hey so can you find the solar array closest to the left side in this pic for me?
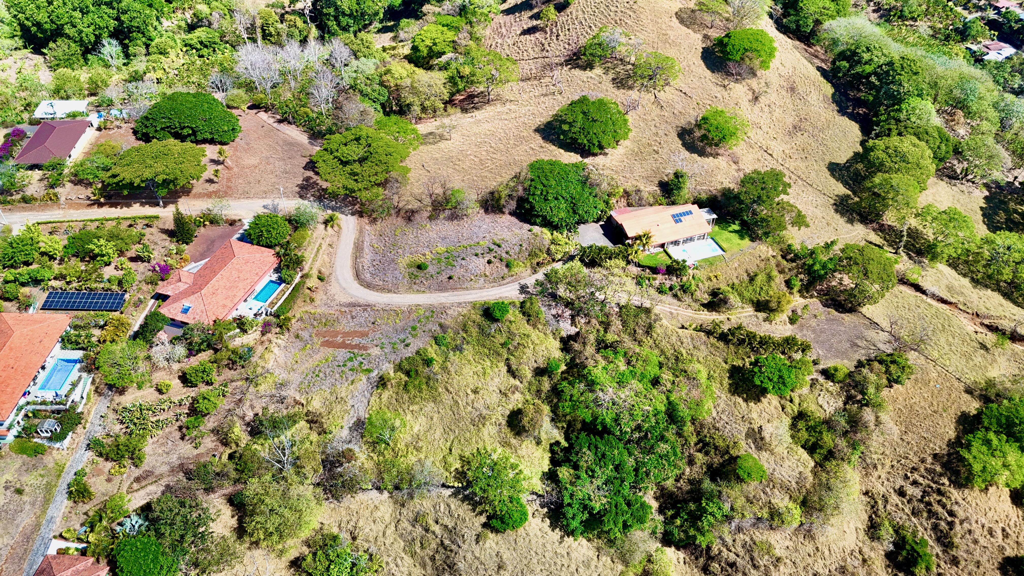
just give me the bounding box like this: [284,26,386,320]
[42,292,128,312]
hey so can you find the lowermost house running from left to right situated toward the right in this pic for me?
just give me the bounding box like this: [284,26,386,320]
[603,202,715,252]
